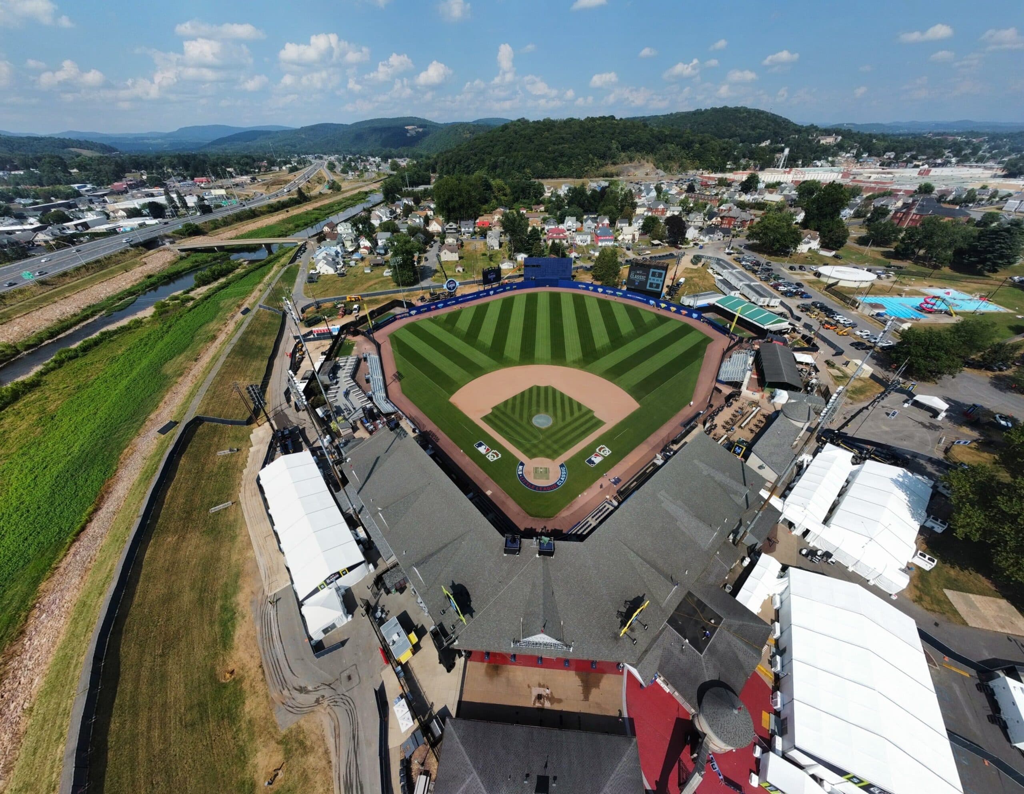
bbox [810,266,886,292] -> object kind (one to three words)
building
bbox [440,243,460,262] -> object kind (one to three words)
house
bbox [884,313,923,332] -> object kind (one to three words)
building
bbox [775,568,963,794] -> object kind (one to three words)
tent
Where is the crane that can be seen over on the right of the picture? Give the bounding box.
[818,379,901,467]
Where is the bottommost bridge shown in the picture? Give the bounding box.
[160,237,313,254]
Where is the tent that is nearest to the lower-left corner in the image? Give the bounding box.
[301,588,352,649]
